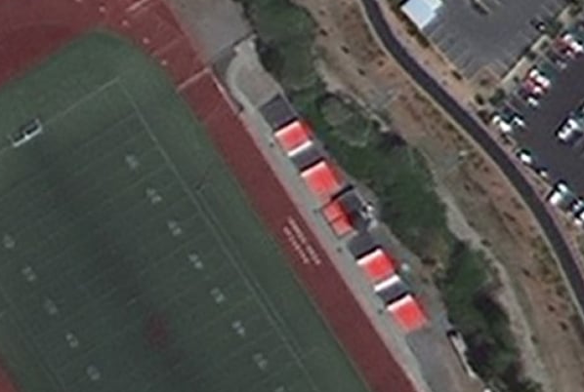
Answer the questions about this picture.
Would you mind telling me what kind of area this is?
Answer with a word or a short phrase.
sports ground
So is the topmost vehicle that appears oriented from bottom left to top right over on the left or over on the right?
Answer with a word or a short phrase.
right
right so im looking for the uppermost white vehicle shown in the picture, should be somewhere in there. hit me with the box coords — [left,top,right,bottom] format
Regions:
[565,34,584,51]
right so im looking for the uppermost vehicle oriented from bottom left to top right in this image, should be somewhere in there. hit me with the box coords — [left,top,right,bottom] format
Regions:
[557,118,578,140]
